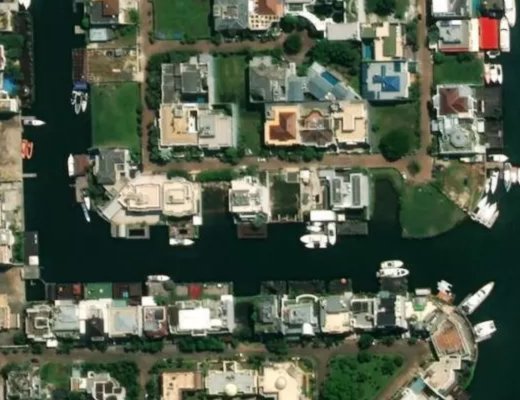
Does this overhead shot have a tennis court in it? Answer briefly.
No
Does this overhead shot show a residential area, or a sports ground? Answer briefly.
residential area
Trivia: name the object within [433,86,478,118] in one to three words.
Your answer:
house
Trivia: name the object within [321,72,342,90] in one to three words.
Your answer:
swimming pool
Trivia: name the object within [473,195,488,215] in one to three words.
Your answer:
boat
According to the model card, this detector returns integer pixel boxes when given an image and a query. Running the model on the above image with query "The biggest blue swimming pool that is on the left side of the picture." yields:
[3,78,16,92]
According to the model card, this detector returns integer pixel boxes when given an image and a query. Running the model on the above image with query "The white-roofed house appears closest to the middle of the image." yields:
[230,176,263,223]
